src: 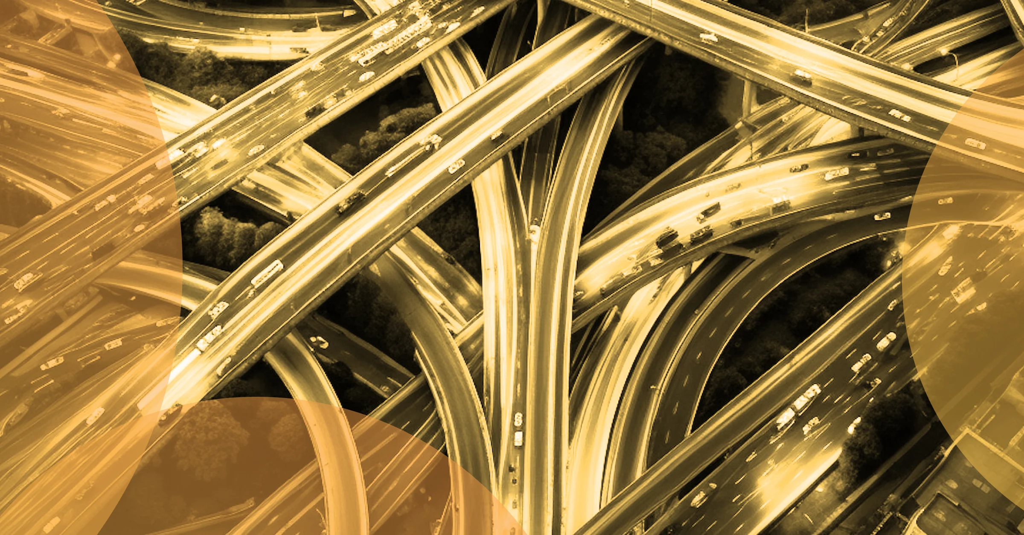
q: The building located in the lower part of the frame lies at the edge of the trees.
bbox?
[975,364,1024,469]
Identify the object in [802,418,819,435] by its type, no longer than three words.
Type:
car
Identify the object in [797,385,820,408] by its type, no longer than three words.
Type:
truck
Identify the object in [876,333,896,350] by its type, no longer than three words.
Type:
vehicle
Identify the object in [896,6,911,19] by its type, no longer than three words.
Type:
vehicle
